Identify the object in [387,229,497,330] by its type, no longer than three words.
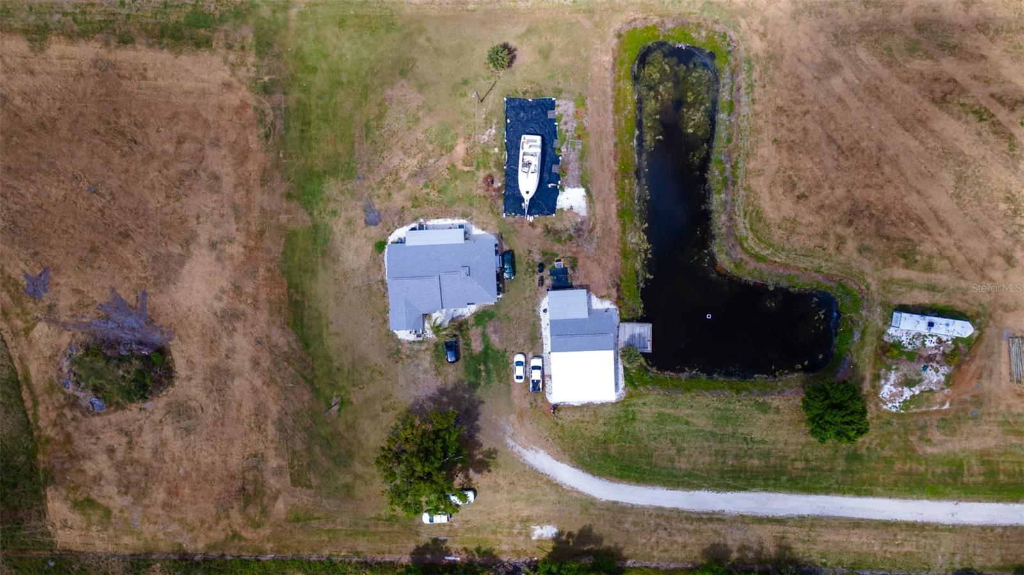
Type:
house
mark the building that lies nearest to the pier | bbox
[548,289,616,405]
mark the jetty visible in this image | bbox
[618,322,652,353]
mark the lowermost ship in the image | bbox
[892,311,974,337]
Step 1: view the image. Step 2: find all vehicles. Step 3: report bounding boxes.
[529,356,544,394]
[422,511,450,526]
[512,353,526,384]
[448,488,476,505]
[502,249,516,280]
[444,339,458,364]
